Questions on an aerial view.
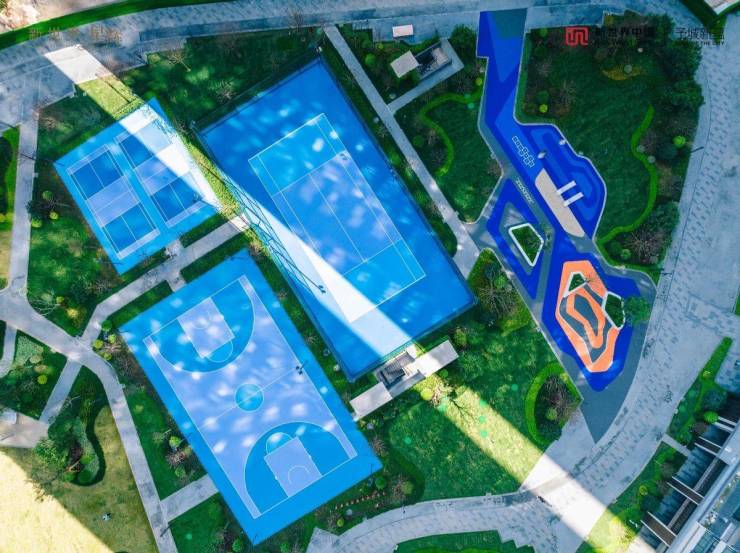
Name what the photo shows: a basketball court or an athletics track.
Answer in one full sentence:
This aerial view contains a basketball court.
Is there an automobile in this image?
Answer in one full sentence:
No, the photo shows no automobile.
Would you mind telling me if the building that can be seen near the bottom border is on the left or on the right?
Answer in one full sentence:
The building that can be seen near the bottom border appears in the right half of the scene.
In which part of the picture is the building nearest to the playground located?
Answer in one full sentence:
The building nearest to the playground sits in the top section of the image.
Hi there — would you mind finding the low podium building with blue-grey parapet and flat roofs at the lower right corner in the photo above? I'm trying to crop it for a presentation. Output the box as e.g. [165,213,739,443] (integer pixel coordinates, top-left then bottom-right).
[637,398,740,553]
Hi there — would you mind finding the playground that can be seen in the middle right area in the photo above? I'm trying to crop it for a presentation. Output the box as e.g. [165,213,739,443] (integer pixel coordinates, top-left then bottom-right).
[464,7,657,444]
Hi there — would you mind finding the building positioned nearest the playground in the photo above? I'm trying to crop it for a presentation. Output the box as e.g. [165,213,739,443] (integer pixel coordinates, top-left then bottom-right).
[391,42,453,83]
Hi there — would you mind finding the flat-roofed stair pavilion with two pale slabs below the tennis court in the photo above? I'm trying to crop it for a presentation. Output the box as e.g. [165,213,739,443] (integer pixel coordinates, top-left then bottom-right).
[350,340,458,418]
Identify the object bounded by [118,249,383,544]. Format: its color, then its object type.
blue basketball court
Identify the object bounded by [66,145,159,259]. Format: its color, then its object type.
blue sports court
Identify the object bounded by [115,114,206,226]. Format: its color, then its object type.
blue sports court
